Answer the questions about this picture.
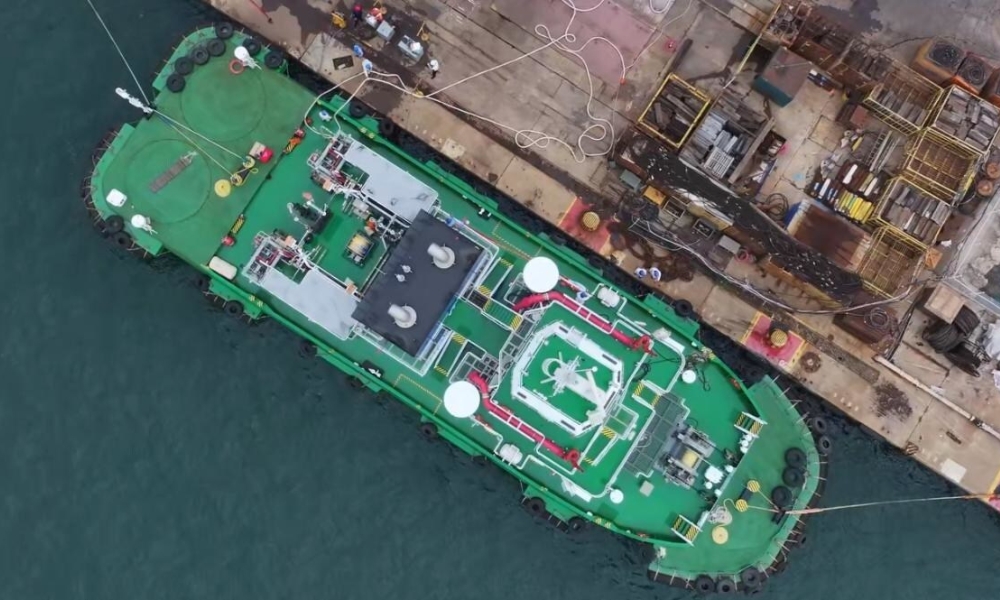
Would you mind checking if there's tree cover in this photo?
No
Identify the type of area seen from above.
port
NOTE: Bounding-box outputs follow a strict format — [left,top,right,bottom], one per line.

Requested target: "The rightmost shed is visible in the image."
[759,47,812,104]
